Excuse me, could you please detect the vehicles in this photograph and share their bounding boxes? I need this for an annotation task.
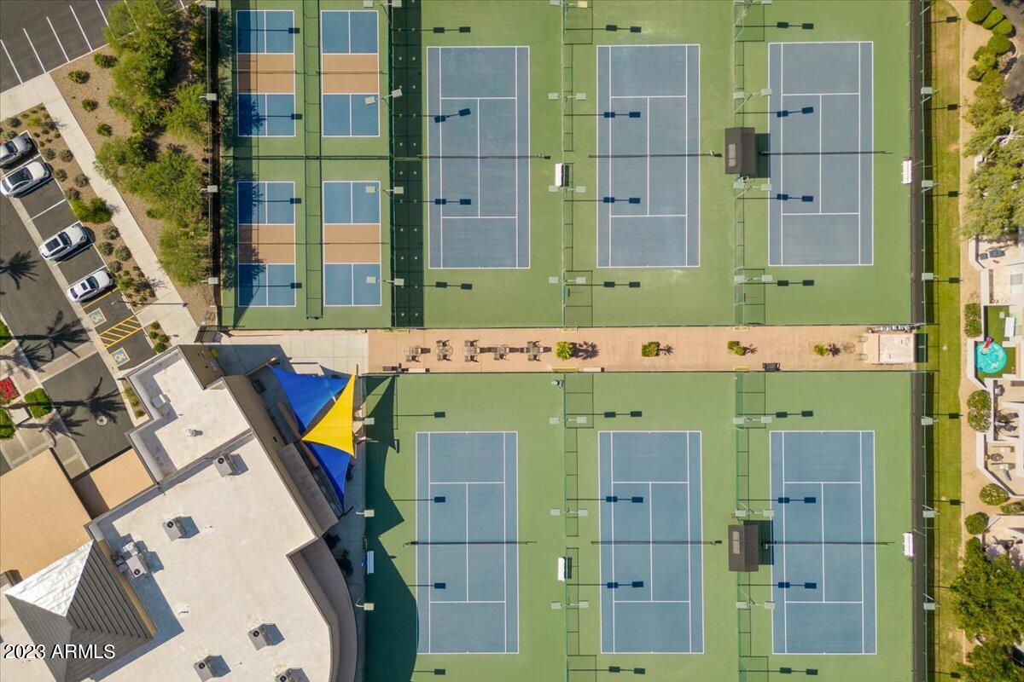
[67,270,113,302]
[39,227,86,259]
[0,134,34,168]
[0,161,49,195]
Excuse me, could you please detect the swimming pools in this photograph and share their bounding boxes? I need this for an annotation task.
[976,343,1009,374]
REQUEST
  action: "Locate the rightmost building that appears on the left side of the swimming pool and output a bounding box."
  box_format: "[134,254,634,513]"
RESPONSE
[866,334,914,364]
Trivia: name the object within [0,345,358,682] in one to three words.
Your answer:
building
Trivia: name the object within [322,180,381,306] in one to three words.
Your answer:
sports court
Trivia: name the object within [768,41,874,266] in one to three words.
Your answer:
tennis court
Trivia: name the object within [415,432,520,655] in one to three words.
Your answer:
tennis court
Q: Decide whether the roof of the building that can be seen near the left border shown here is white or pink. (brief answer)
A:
white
